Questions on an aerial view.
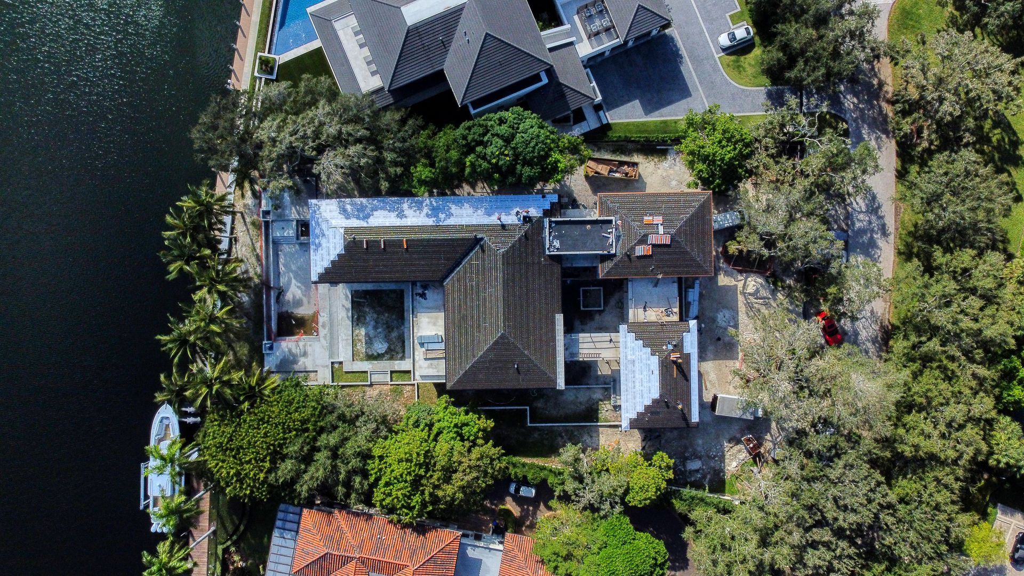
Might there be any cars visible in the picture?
Yes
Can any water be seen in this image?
Yes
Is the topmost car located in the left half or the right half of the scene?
right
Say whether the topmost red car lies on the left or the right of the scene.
right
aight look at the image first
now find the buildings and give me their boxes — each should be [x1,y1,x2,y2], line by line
[291,499,542,576]
[309,0,671,134]
[309,189,716,431]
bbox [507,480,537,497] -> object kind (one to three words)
car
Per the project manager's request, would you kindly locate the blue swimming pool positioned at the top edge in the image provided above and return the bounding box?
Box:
[271,0,332,66]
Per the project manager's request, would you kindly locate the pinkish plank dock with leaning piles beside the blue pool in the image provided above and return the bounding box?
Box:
[227,0,255,89]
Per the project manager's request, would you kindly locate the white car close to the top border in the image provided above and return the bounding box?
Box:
[716,26,753,51]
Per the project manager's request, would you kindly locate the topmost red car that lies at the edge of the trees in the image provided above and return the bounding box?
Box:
[815,310,844,348]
